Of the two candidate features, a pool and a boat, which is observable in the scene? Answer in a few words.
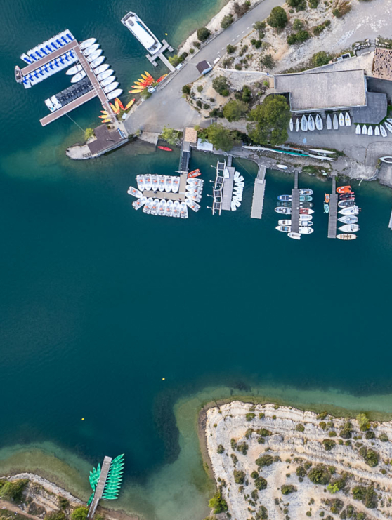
boat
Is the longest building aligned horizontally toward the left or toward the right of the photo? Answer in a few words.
right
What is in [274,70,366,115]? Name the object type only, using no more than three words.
building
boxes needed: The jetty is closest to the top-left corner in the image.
[21,40,117,126]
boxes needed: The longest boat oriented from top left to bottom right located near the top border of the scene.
[119,12,161,55]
